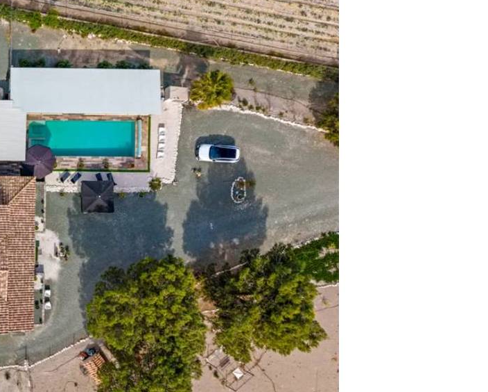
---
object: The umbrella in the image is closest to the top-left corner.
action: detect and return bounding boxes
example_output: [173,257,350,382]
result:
[23,146,55,178]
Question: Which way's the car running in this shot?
from side to side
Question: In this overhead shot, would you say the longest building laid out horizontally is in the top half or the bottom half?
top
